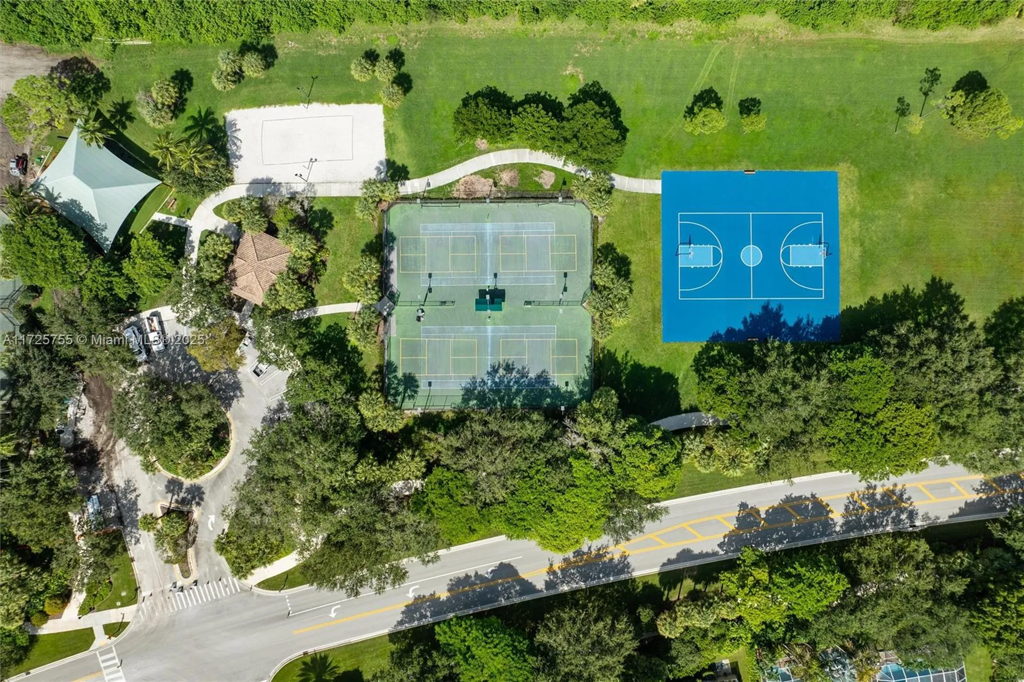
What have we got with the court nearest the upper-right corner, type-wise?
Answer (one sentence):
The court nearest the upper-right corner can be classified as a basketball court.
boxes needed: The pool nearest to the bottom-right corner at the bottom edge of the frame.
[876,652,965,682]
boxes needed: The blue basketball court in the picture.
[661,170,840,342]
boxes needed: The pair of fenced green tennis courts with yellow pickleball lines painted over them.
[387,202,593,409]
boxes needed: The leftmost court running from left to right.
[226,103,386,183]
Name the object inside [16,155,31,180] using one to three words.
work vehicle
